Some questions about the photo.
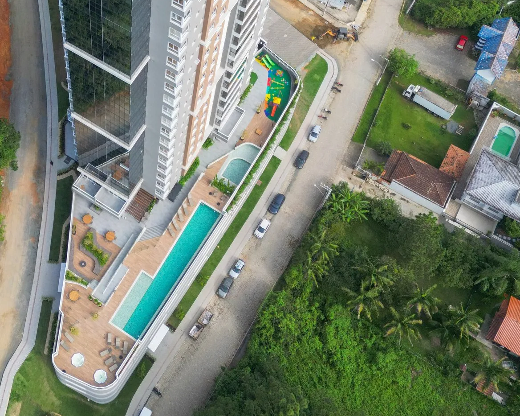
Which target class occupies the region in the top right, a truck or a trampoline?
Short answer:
truck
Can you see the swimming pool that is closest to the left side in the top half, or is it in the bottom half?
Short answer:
bottom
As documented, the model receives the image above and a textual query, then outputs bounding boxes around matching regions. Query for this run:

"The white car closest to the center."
[254,216,272,240]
